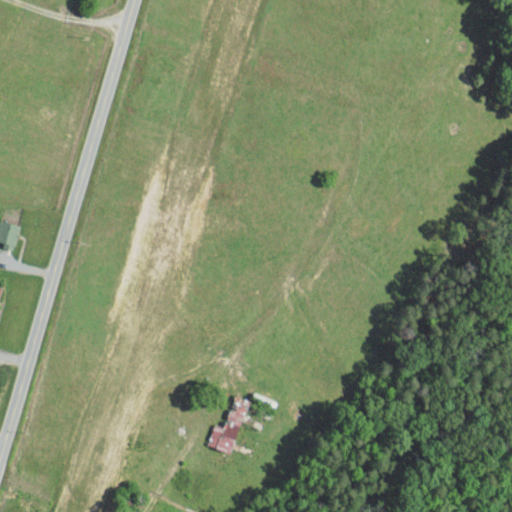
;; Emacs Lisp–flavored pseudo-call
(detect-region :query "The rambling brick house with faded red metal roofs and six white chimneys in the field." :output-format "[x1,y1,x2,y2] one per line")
[208,398,252,454]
